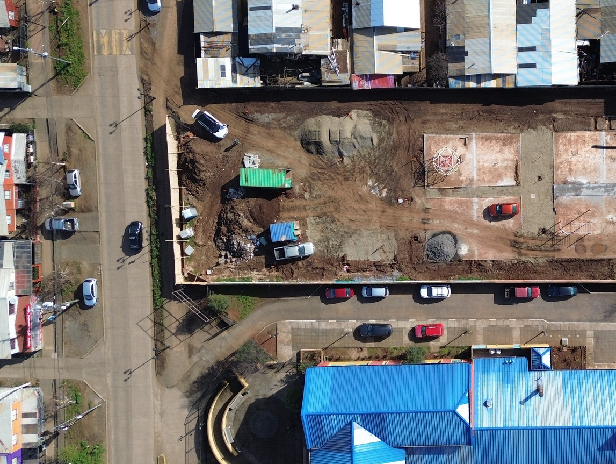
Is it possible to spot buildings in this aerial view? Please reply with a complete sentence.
Yes, I can see a building in this picture.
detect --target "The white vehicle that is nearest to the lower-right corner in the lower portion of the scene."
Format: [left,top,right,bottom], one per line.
[420,283,451,300]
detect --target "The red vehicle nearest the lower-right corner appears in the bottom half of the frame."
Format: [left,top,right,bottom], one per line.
[505,283,540,301]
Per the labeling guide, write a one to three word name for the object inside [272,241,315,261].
vehicle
